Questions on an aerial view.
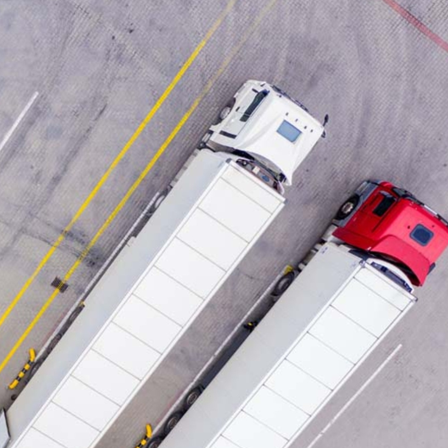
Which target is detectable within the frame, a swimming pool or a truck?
truck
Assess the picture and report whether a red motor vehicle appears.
Yes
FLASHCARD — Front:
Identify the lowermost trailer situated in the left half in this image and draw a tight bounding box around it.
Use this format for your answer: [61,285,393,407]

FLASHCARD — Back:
[0,149,286,448]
